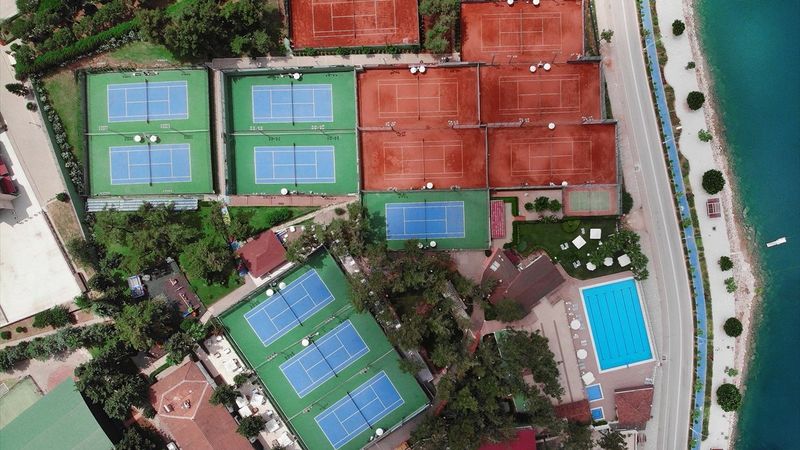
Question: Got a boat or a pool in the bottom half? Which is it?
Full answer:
There is a pool in the bottom half.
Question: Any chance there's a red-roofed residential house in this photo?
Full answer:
Yes, a red-roofed residential house can be made out from above.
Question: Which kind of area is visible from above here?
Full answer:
It's a sports ground.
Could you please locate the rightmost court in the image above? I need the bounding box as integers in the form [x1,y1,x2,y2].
[563,187,618,216]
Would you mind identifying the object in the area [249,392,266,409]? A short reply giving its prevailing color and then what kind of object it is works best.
white umbrella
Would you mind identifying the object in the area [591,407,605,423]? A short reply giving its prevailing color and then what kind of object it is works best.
blue swimming pool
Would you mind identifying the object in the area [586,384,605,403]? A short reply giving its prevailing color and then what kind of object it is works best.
blue swimming pool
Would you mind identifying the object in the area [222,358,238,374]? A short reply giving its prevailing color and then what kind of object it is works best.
white umbrella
